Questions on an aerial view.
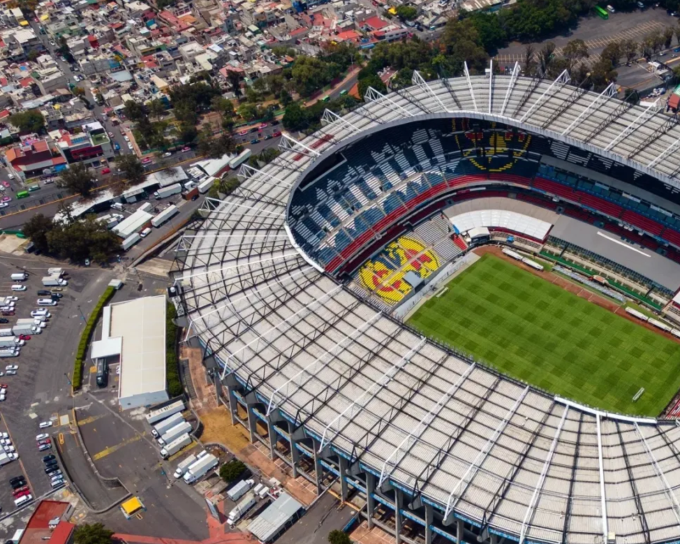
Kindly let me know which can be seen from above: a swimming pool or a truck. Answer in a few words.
truck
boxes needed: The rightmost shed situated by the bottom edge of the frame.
[247,493,306,544]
